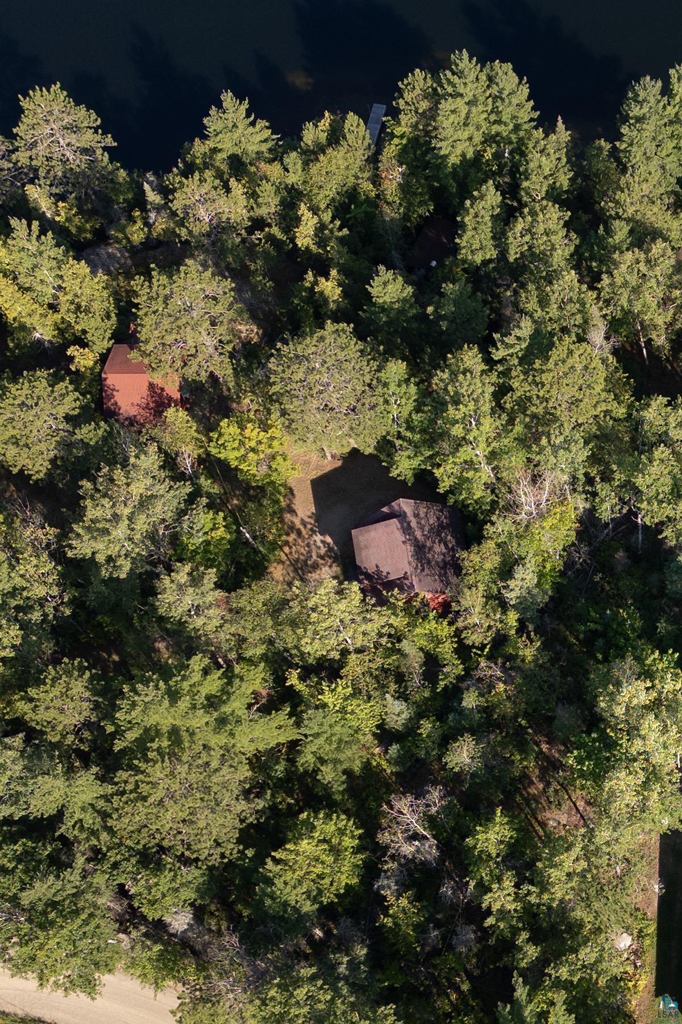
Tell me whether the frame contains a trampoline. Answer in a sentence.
No, no trampoline can be seen from above.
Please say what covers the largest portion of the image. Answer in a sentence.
The bulk of the photo consists of trees.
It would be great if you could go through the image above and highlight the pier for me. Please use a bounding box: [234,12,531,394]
[363,104,386,171]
